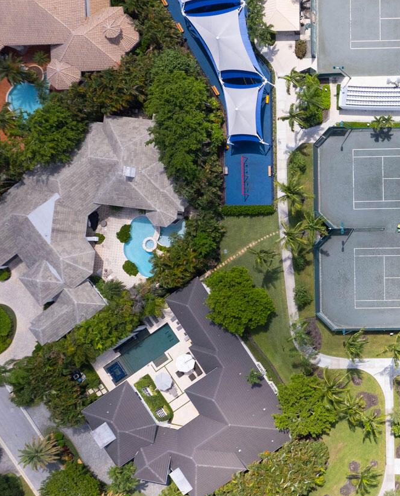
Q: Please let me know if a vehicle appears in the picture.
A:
No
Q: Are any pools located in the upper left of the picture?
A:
Yes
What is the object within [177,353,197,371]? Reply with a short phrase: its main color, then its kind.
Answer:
white umbrella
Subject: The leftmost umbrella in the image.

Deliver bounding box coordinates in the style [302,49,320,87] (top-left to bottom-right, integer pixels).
[156,372,174,389]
